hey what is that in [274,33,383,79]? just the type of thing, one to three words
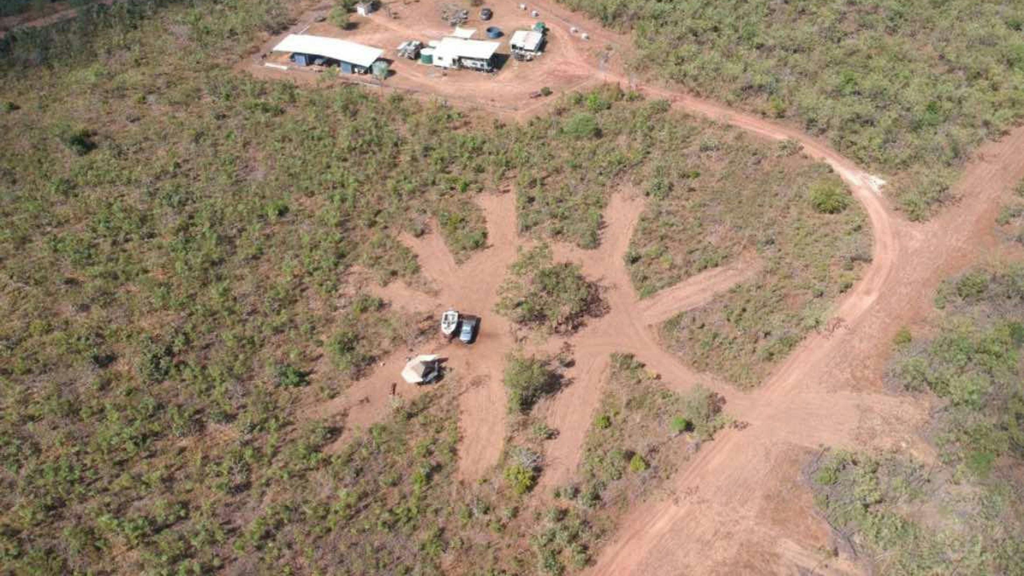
shed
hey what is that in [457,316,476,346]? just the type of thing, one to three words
vehicle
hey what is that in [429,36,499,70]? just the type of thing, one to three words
house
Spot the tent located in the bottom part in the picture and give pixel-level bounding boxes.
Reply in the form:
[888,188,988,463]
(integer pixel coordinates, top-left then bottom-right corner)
[401,353,449,383]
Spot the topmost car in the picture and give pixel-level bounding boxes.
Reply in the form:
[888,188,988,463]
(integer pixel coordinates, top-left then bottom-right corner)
[479,8,491,21]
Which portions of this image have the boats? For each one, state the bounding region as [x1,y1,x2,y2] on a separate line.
[443,309,458,336]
